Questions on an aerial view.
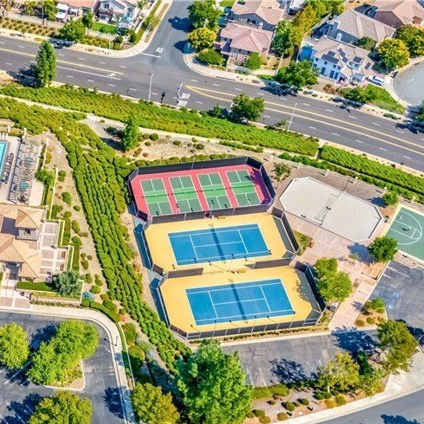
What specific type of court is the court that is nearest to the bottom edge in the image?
tennis court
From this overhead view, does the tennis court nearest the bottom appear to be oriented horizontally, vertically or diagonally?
horizontally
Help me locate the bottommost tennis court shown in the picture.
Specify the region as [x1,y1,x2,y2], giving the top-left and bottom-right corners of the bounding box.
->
[163,265,323,332]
